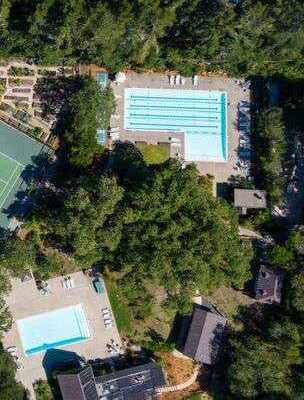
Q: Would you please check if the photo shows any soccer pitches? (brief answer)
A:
No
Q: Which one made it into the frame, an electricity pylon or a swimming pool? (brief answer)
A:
swimming pool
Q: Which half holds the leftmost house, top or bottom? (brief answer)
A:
bottom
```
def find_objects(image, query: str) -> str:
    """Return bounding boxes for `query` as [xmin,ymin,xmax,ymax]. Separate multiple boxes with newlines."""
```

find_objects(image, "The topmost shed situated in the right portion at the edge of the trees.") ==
[229,188,266,214]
